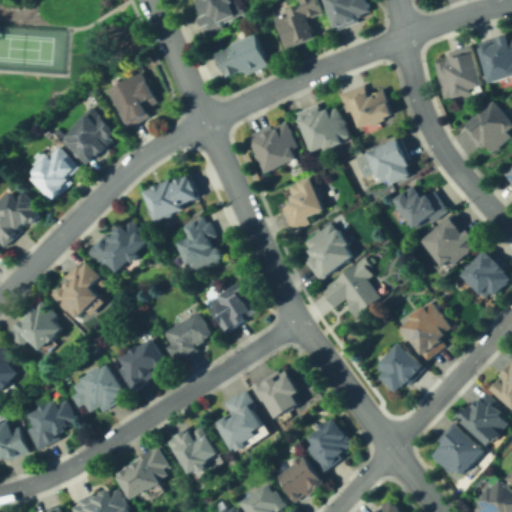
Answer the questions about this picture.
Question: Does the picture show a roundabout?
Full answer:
No, I find no roundabout anywhere in the image.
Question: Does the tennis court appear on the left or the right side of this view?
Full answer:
The tennis court sits on the left side.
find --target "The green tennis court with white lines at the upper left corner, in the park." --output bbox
[0,28,68,75]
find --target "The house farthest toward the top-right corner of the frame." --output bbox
[479,33,512,81]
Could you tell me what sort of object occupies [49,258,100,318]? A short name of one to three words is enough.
house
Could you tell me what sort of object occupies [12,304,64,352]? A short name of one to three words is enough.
house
